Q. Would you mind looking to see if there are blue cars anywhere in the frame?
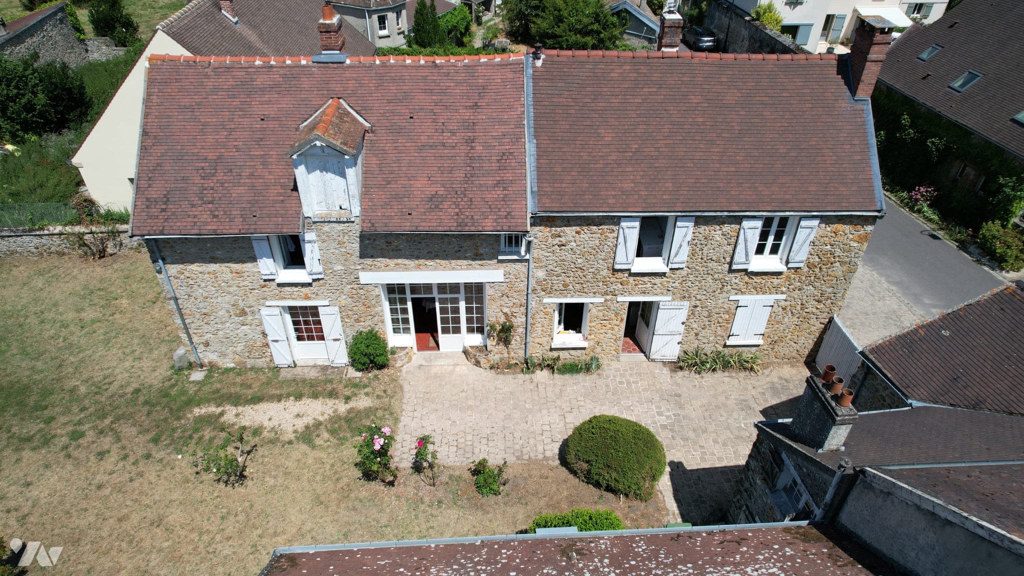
No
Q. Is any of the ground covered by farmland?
No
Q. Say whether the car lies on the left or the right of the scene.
right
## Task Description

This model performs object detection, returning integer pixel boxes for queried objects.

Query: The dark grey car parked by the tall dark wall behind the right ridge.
[679,7,724,46]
